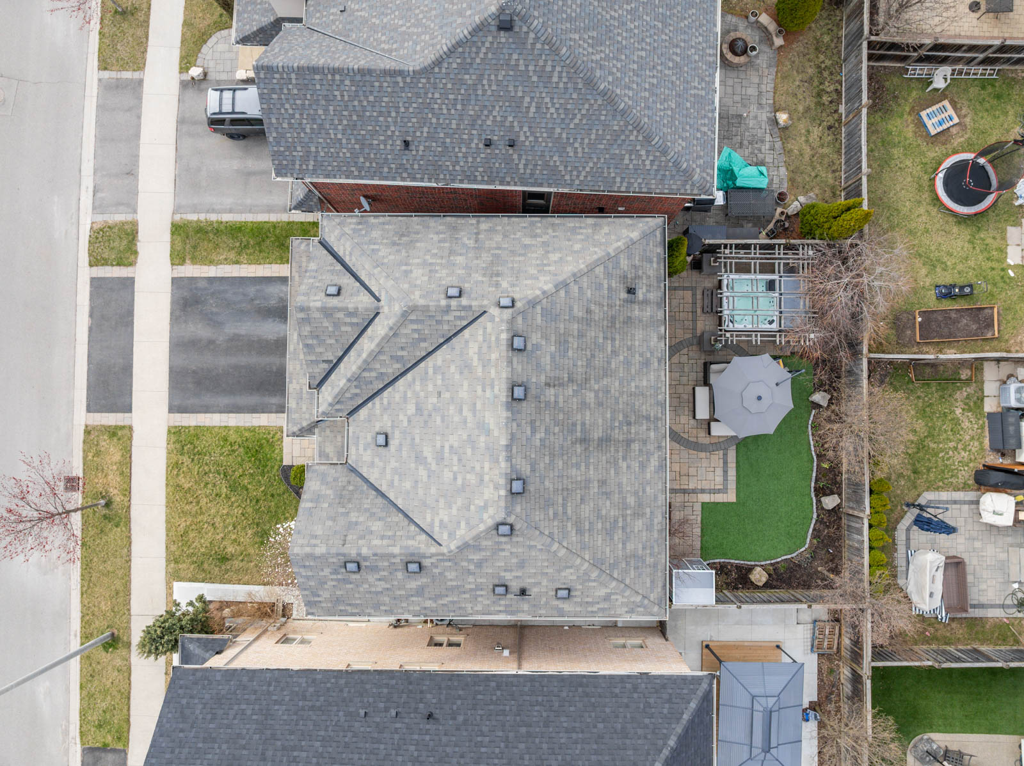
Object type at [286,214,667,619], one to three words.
house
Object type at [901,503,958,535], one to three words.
umbrella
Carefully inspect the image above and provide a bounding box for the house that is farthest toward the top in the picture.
[232,0,720,224]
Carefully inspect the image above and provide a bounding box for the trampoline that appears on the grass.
[928,141,1024,217]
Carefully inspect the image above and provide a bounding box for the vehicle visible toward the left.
[210,86,269,143]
